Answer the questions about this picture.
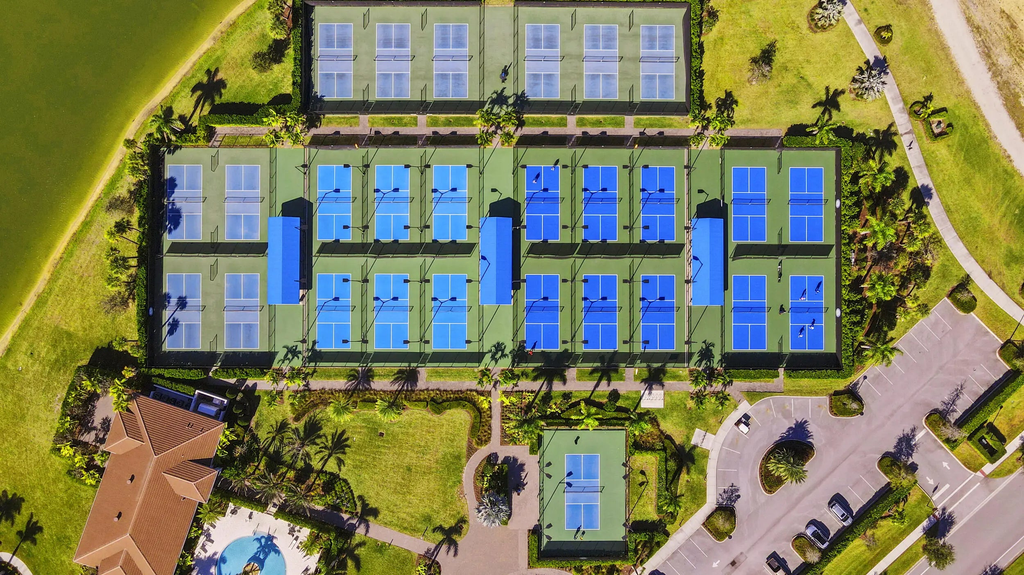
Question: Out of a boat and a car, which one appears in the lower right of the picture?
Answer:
car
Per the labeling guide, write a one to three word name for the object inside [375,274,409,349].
sports court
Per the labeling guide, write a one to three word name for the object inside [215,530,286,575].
swimming pool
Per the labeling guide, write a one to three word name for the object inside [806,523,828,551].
car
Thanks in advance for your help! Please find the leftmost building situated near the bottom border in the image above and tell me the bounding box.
[73,392,227,575]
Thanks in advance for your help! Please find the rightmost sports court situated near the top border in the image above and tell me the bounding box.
[641,25,675,99]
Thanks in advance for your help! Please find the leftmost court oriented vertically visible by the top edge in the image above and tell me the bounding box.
[318,23,353,98]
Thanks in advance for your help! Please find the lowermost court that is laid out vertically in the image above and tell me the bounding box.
[565,454,600,530]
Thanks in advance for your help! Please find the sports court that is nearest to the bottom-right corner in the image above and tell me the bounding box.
[790,275,824,350]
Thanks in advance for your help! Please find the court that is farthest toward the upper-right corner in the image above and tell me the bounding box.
[790,167,823,242]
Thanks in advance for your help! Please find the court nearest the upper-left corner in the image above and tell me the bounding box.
[167,165,203,239]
